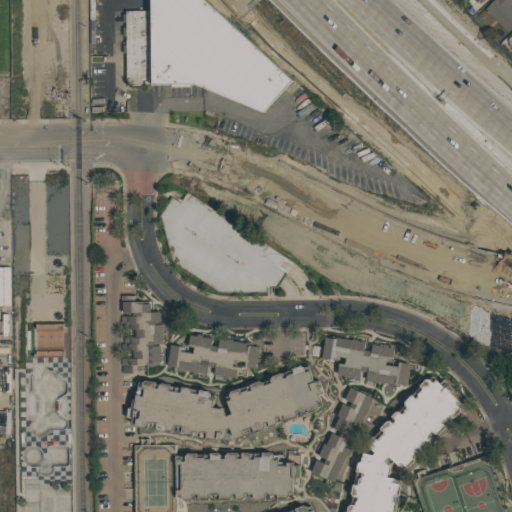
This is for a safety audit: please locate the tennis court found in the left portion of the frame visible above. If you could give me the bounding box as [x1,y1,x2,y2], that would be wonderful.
[134,440,177,512]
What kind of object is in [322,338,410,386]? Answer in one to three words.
house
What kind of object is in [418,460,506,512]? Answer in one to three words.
sports court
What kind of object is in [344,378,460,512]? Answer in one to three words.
building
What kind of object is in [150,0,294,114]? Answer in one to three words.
warehouse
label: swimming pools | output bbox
[285,417,314,444]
